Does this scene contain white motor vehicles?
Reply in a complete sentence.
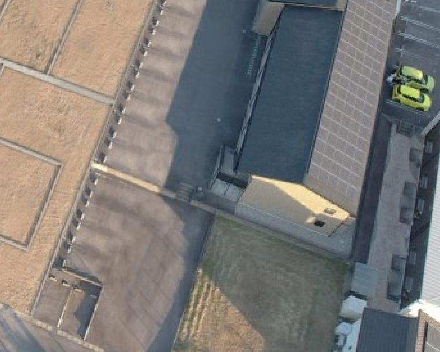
No, no white motor vehicle is visible in the view.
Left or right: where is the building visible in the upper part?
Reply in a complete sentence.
It is on the right.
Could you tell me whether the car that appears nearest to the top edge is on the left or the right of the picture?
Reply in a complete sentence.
You can find the car that appears nearest to the top edge on the right side of the picture.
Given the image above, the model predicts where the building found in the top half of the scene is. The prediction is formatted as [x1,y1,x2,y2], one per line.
[211,0,410,229]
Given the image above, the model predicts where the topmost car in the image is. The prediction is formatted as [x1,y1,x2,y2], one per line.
[393,66,436,94]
